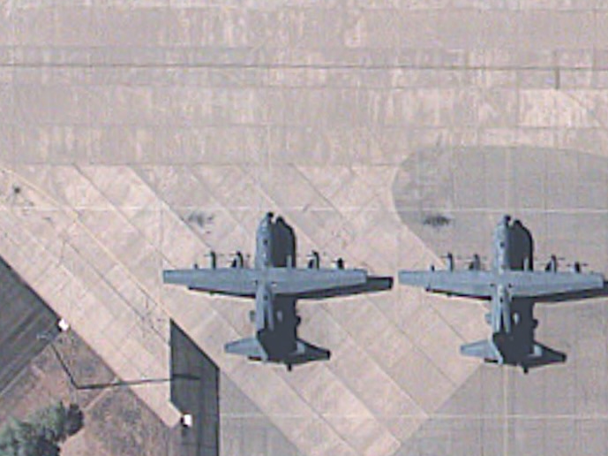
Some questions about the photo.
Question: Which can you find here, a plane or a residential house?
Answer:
plane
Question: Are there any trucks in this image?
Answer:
No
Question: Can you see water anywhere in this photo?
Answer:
No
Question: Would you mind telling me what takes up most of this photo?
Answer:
paved ground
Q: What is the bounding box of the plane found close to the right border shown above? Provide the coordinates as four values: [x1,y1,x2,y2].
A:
[398,214,603,366]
